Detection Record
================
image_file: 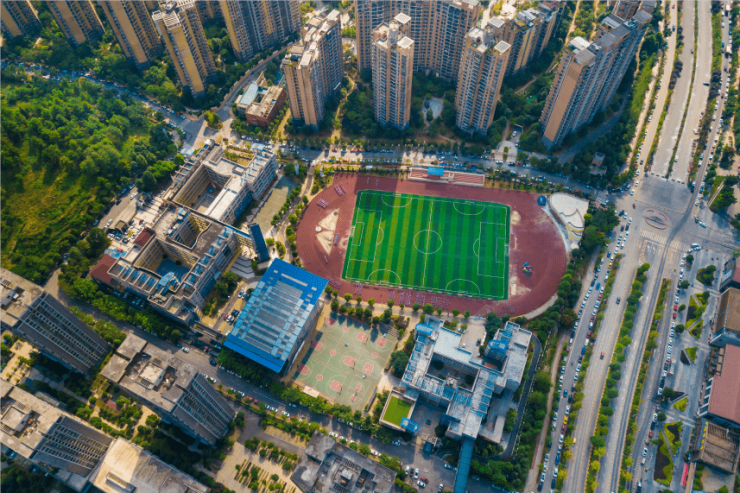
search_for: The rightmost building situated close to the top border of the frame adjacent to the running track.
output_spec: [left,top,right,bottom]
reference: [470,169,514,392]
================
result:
[536,8,653,147]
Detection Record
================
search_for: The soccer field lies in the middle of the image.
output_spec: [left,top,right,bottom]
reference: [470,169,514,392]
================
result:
[342,189,512,299]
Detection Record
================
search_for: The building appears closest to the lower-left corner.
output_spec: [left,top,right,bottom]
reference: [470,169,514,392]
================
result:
[0,374,117,481]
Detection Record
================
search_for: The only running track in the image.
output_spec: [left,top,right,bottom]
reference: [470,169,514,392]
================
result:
[296,173,567,318]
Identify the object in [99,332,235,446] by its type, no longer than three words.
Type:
building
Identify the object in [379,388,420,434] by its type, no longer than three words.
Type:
building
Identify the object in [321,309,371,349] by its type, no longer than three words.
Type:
basketball court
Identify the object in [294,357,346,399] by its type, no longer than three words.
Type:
basketball court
